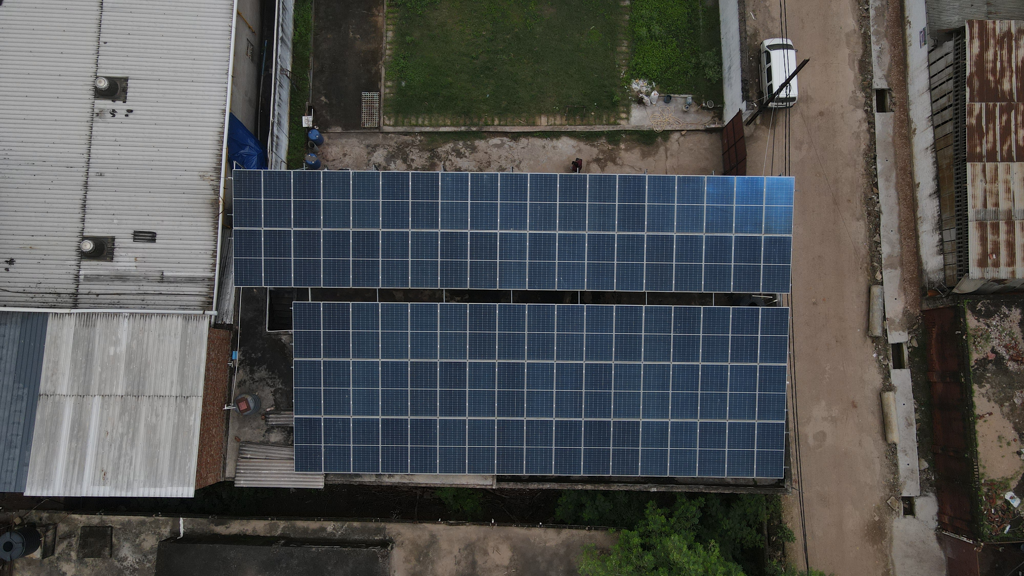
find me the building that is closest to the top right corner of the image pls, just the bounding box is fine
[909,0,1024,293]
